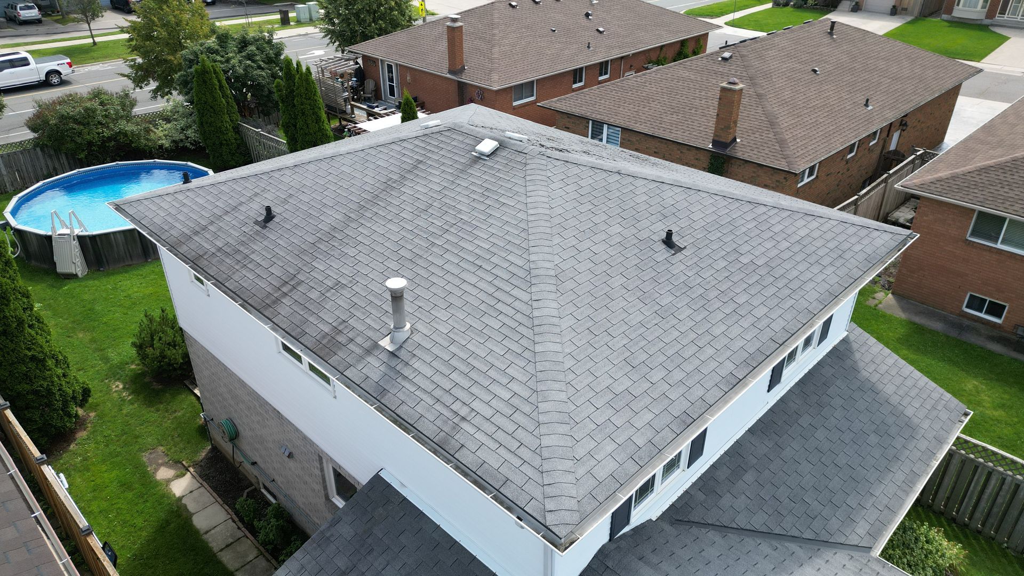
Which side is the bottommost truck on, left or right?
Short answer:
left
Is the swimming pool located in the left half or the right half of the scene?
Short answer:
left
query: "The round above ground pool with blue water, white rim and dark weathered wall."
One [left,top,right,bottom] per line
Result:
[0,161,206,271]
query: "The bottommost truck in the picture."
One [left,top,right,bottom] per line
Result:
[0,52,77,88]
